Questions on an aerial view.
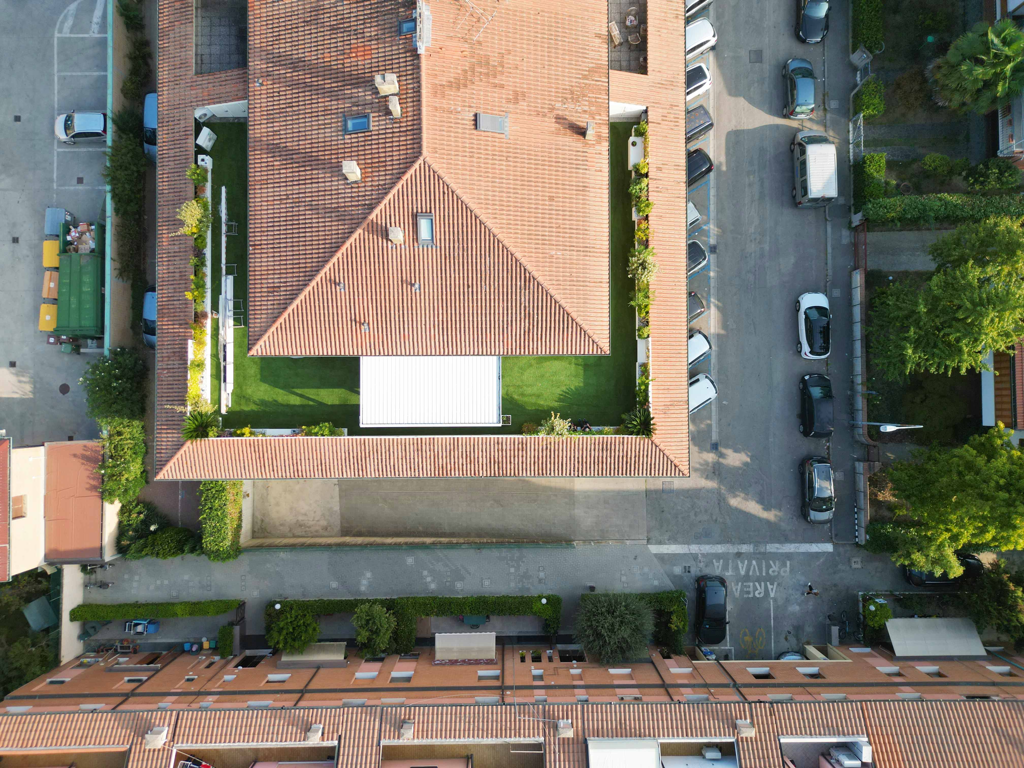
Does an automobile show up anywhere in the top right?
Yes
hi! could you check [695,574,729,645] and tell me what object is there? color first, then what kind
black car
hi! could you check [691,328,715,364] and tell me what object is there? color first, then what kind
white car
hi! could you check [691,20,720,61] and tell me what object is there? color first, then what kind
white car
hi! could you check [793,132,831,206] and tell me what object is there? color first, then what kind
white vehicle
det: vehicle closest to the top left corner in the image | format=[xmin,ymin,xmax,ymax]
[52,109,105,144]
